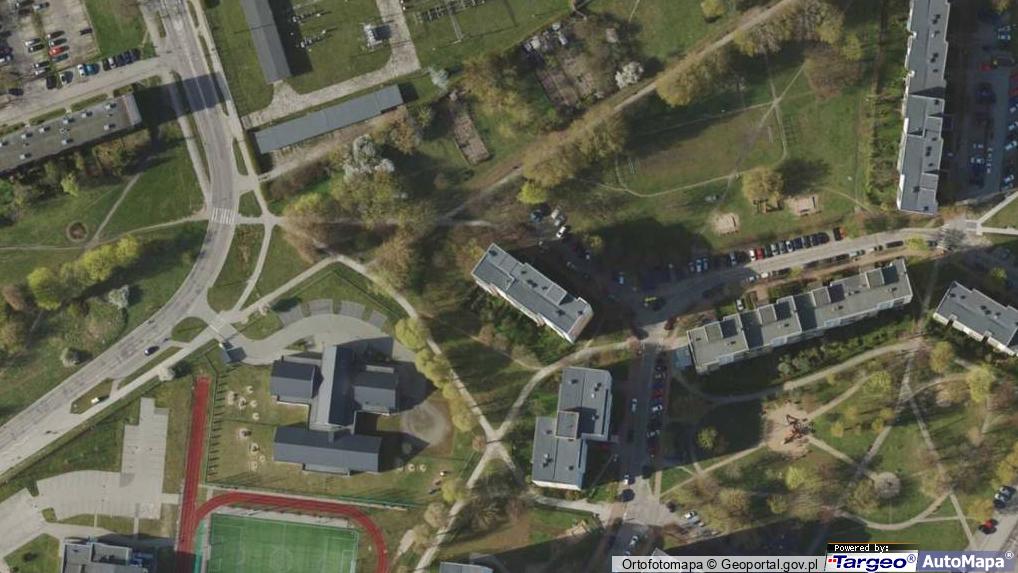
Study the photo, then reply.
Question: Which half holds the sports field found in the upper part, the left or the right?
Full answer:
The sports field found in the upper part is on the right side of the image.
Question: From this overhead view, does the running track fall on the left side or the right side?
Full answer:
The running track is on the left side of the image.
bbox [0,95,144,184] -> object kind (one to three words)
building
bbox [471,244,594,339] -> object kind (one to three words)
building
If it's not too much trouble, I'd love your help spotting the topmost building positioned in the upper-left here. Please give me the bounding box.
[241,0,293,85]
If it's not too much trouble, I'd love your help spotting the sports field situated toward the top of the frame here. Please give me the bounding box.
[639,129,766,183]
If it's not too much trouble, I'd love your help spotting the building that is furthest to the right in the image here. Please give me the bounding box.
[933,282,1018,353]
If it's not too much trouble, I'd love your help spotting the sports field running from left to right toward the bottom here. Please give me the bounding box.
[206,514,357,573]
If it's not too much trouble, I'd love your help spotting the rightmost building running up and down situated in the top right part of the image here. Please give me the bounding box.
[893,0,949,219]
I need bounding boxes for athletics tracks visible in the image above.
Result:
[174,376,388,573]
